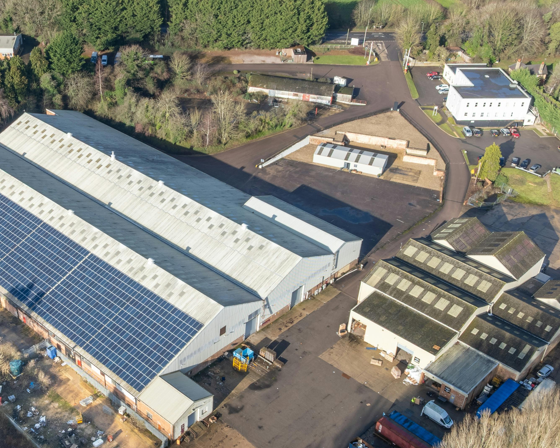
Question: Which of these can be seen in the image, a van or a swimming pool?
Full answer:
It is a van that can be seen here.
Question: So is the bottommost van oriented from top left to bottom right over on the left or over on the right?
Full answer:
The bottommost van oriented from top left to bottom right sits on the right side.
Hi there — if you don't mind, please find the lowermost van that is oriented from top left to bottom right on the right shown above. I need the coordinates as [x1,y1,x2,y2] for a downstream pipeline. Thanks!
[418,394,457,426]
